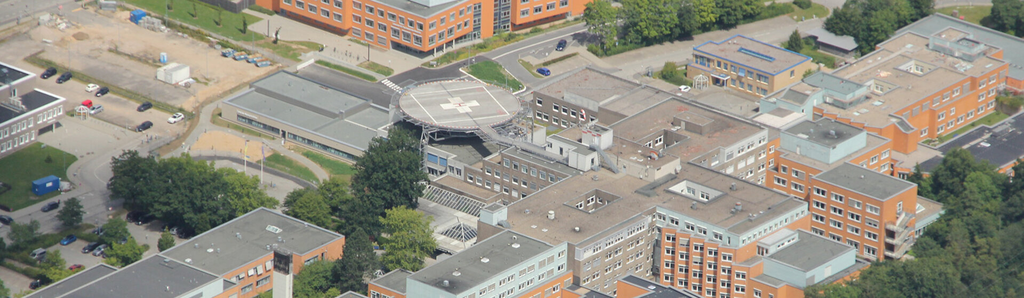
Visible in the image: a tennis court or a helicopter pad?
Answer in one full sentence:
Of the two, only a helicopter pad appears.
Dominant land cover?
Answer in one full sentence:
Most of the picture is covered by buildings.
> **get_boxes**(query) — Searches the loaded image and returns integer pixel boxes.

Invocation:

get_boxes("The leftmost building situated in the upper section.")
[0,60,66,157]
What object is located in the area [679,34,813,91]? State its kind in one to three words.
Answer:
house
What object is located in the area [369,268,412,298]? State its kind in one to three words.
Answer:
building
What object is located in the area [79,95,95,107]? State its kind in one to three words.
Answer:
vehicle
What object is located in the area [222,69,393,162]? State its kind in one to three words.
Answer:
building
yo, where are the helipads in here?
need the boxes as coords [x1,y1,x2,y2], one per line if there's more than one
[391,79,570,175]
